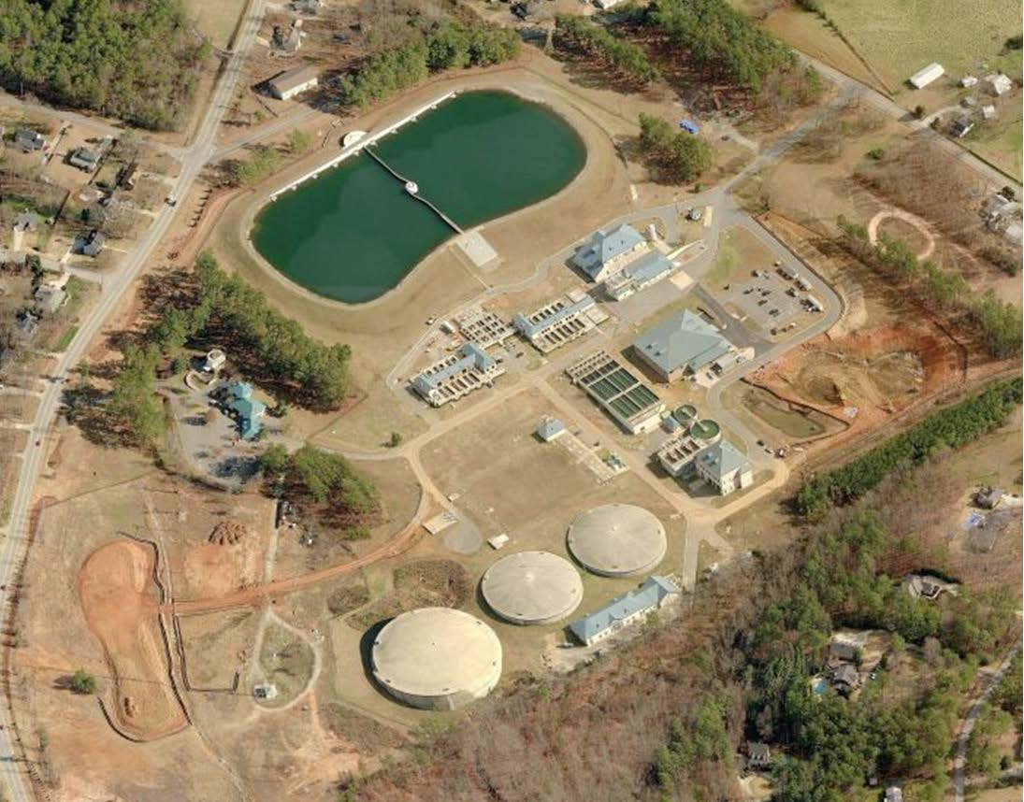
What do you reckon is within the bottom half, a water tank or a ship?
water tank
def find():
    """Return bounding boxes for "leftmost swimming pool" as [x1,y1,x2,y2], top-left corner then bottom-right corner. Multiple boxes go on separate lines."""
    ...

[810,676,828,699]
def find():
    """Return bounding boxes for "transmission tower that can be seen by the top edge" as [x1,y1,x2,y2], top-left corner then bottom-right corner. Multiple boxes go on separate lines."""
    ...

[542,16,557,52]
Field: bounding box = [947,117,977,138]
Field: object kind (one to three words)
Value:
house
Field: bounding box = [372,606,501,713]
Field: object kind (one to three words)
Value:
water tank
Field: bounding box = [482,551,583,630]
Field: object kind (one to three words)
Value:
water tank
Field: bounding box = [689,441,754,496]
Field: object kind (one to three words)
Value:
building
